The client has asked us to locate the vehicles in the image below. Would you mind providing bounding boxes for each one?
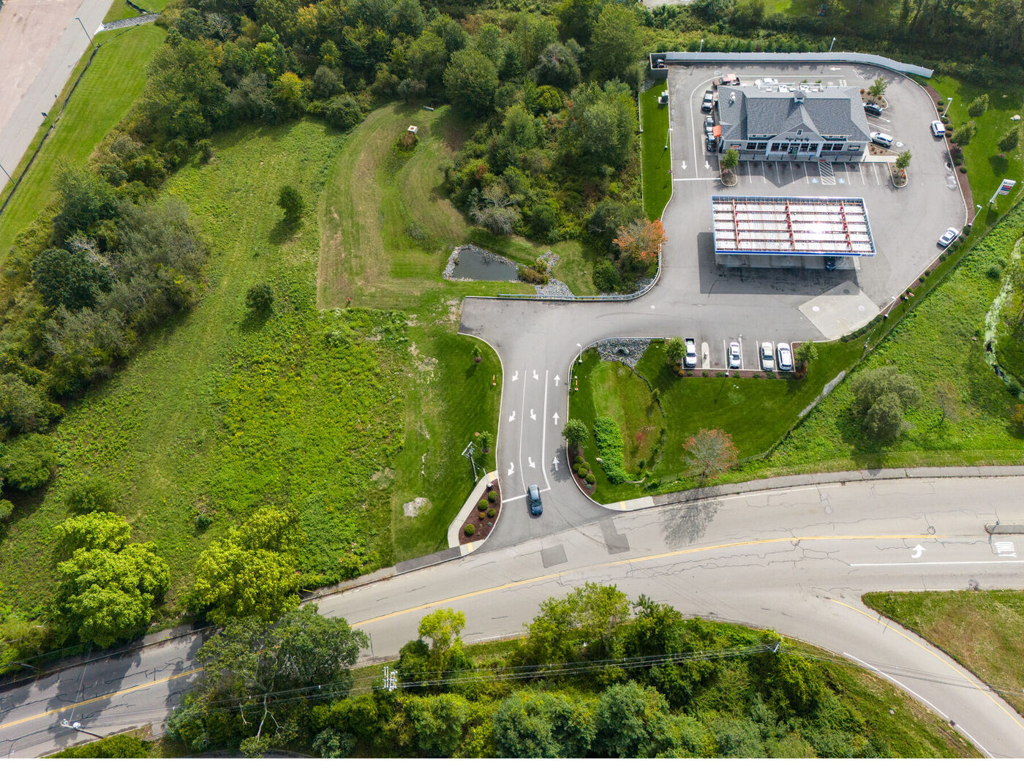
[705,116,716,134]
[870,132,895,147]
[862,102,885,116]
[760,343,775,370]
[713,75,742,88]
[684,337,699,368]
[706,134,718,151]
[777,344,793,370]
[526,484,543,517]
[728,343,742,368]
[938,227,960,247]
[701,91,714,110]
[930,122,947,139]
